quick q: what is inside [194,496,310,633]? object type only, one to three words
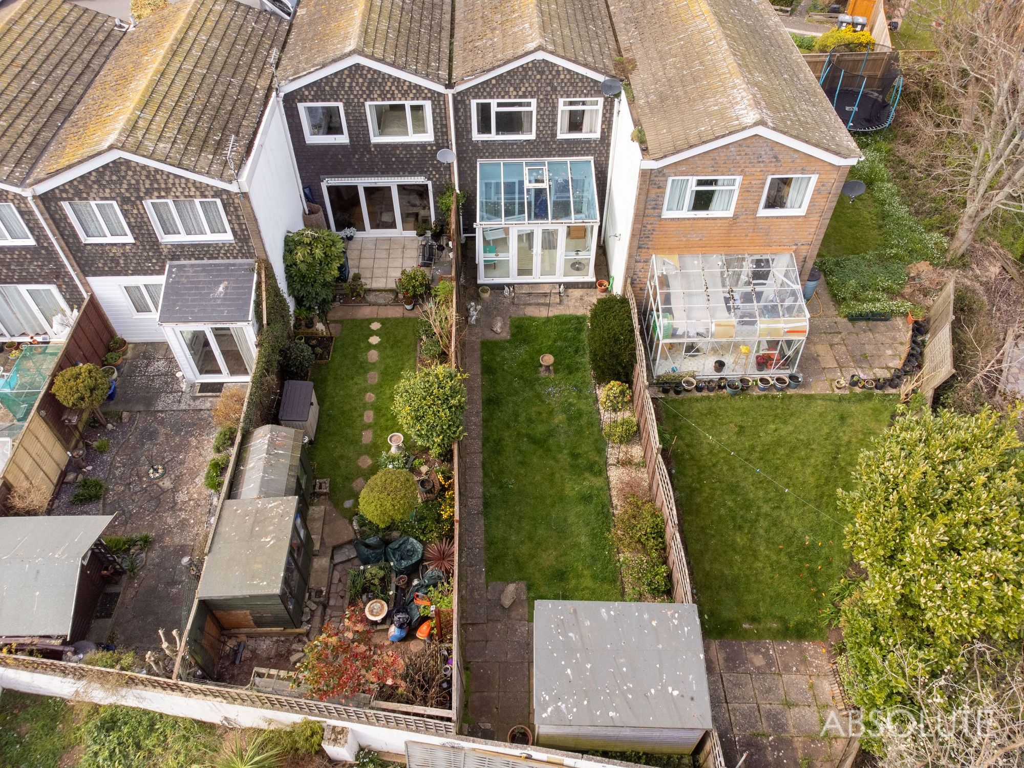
shed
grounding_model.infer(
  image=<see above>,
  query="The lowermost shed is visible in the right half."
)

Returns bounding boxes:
[533,597,712,754]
